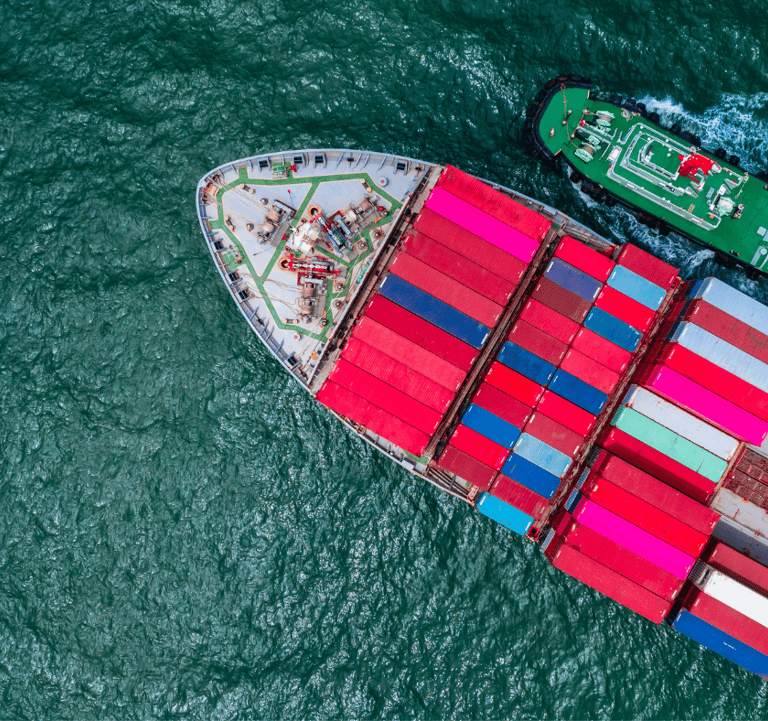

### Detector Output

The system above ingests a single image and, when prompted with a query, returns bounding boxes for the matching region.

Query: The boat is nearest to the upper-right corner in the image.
[521,75,768,281]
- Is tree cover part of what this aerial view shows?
No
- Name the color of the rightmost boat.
green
